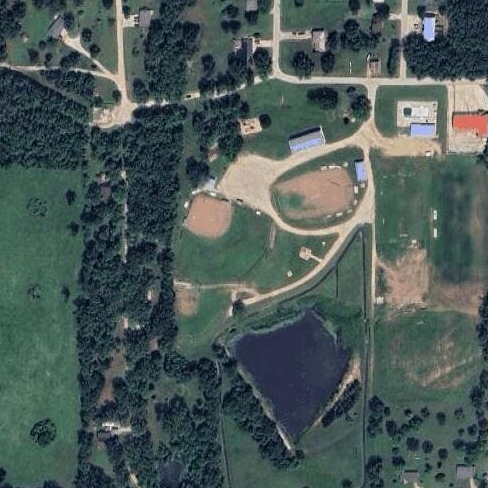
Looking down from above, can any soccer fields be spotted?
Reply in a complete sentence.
Yes, the frame does contain a soccer field.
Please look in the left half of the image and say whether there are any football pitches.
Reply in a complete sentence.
No, looking in the left half of the image, there is no football pitch.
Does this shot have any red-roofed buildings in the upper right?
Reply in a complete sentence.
Yes, a red-roofed building can be seen in the upper right.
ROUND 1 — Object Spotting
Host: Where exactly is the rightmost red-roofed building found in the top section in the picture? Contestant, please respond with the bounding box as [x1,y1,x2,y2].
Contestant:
[452,116,488,139]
